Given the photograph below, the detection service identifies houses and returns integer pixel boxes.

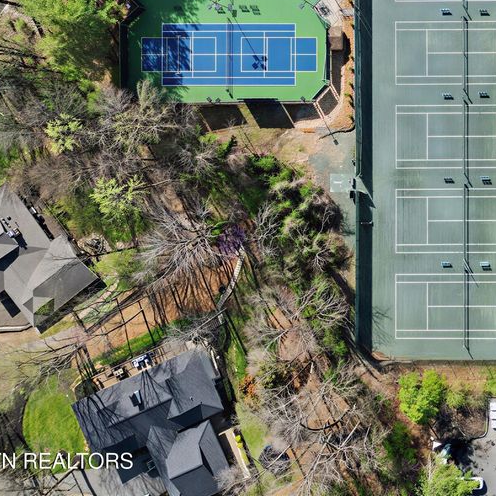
[0,183,105,328]
[71,341,236,496]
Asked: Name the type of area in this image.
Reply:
sports ground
